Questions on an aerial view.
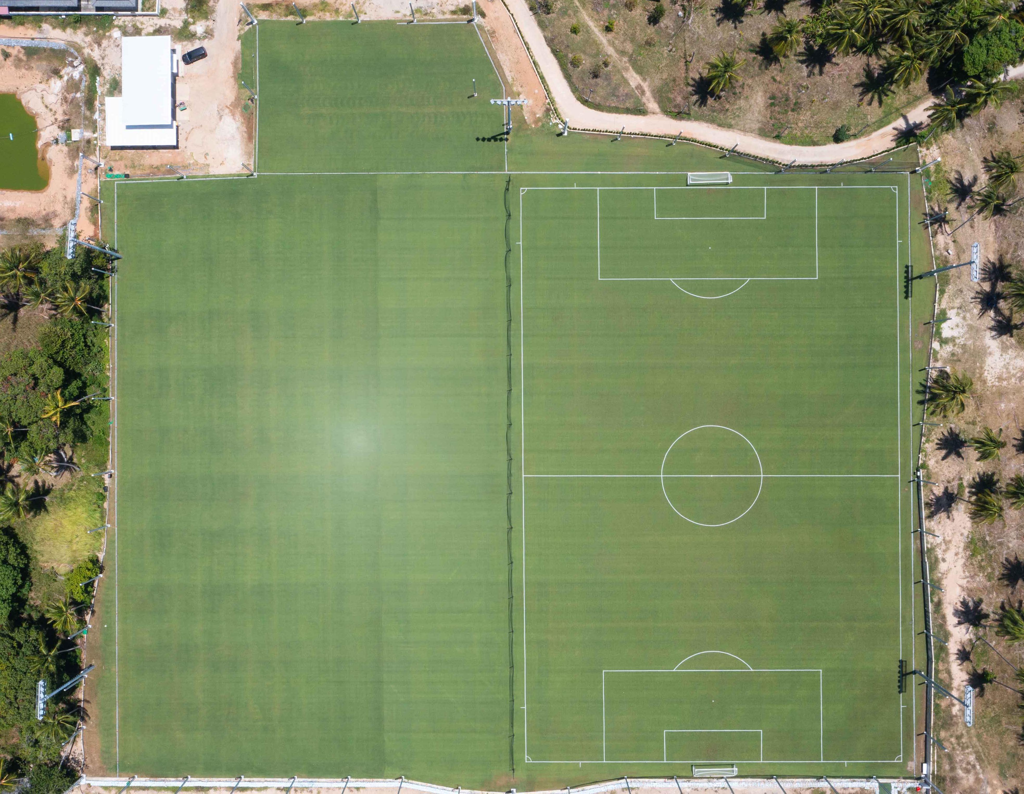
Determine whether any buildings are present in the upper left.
Yes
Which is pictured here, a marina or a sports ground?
sports ground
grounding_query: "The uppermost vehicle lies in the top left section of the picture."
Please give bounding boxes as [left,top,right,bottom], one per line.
[181,46,208,65]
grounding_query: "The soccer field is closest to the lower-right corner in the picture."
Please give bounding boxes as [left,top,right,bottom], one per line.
[510,173,914,792]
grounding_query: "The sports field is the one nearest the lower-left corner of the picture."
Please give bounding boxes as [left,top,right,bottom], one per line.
[116,173,514,792]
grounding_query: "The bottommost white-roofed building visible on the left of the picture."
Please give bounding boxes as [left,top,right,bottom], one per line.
[105,35,183,146]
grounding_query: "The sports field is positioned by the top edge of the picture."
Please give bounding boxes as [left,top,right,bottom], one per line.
[258,20,506,172]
